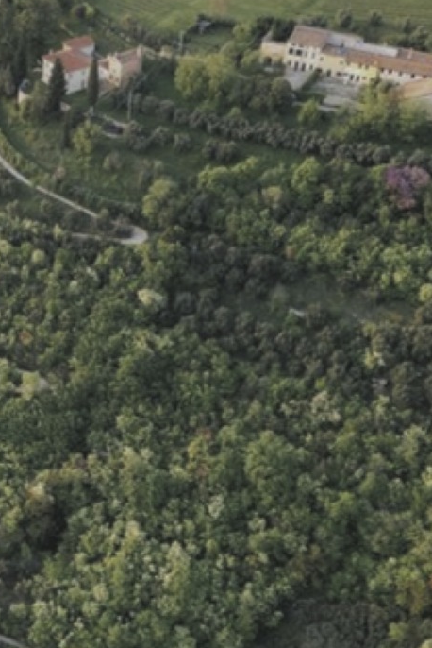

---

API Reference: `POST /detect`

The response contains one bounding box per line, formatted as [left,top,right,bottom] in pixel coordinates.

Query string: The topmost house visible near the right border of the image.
[263,18,432,84]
